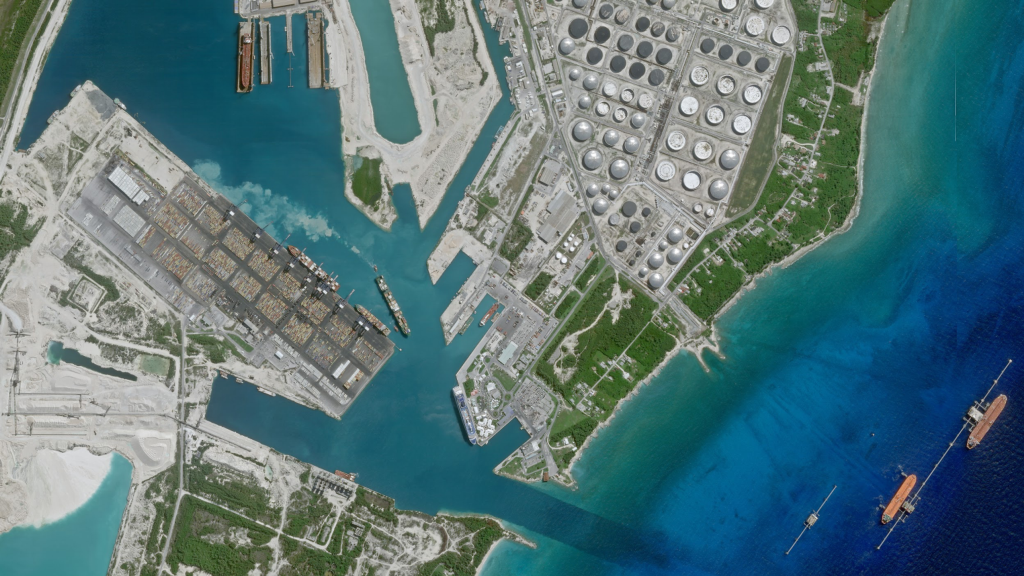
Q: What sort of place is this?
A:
port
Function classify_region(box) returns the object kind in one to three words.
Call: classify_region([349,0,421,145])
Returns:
pond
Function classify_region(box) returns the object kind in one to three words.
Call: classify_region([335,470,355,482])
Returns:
ship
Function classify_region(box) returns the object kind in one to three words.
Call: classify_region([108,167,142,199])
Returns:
building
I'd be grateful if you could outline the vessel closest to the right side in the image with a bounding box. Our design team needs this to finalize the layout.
[968,395,1007,450]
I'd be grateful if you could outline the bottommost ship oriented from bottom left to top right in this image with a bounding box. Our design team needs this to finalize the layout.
[882,474,916,525]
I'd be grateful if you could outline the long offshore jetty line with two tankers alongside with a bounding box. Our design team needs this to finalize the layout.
[877,359,1012,550]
